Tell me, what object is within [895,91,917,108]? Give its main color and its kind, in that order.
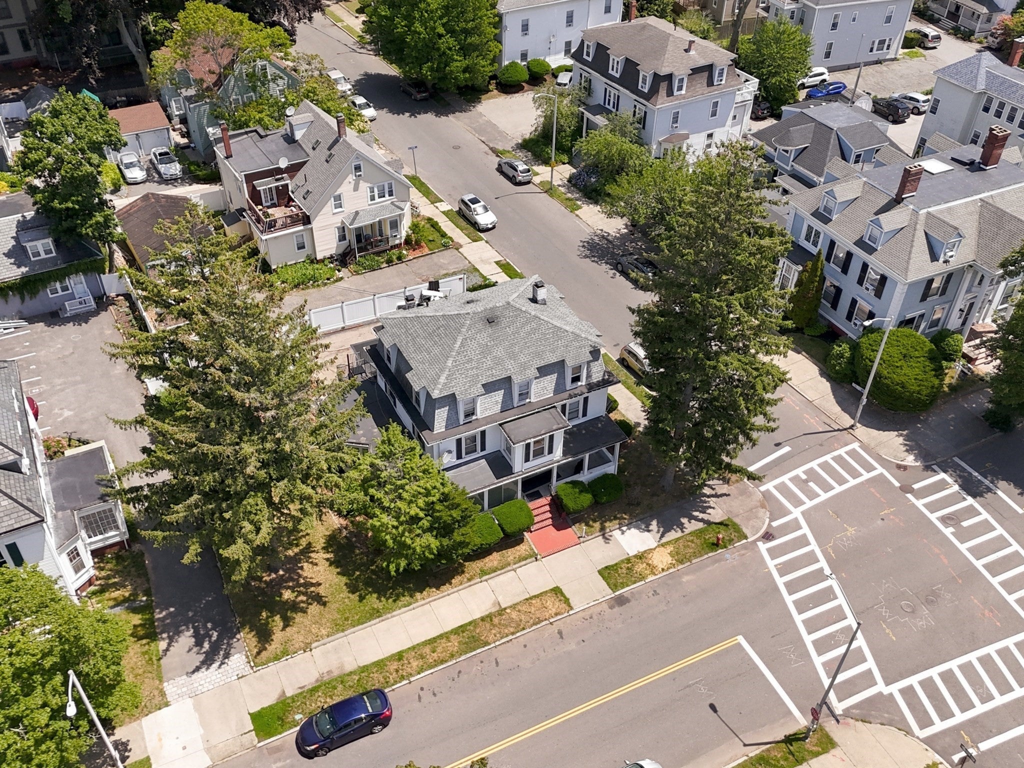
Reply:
gray car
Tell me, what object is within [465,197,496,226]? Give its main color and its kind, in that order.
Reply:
white car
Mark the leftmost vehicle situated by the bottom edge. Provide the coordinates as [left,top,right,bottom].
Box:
[292,686,393,756]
